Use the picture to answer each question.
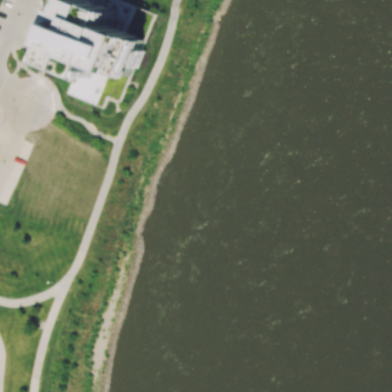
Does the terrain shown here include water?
Yes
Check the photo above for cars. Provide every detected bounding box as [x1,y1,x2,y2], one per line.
[0,12,8,18]
[2,1,14,9]
[15,157,26,165]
